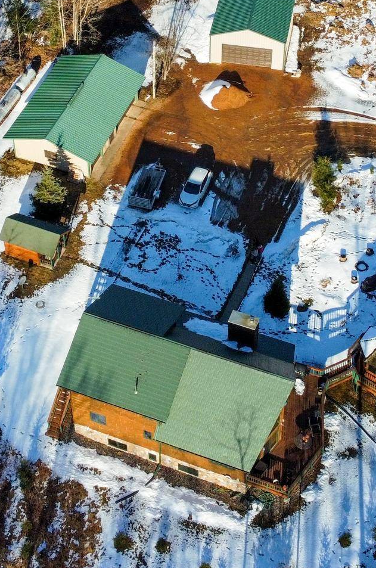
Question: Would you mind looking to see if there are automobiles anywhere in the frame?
Yes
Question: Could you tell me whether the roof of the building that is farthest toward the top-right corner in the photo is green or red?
green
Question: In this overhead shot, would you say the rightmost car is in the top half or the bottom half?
top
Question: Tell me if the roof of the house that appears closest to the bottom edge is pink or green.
green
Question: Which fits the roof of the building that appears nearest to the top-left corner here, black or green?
green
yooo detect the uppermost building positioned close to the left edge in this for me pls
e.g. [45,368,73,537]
[2,54,146,178]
